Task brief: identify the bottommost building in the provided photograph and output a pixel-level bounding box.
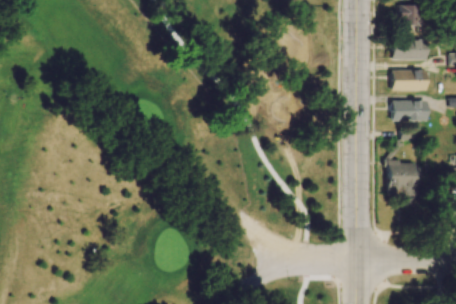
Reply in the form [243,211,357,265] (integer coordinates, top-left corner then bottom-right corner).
[387,161,420,197]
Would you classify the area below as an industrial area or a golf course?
golf course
